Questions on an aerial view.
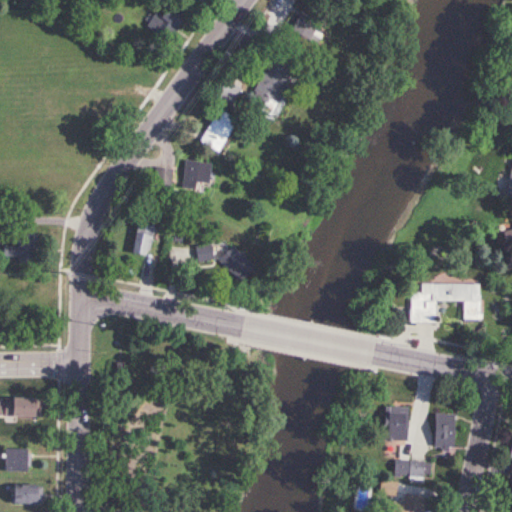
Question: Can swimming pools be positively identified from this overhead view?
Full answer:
No, I can't see a single swimming pool in this photo.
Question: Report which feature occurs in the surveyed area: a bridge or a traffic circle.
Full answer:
The image shows a bridge.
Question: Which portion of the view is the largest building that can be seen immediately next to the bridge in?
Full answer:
You can find the largest building that can be seen immediately next to the bridge in the right area of the picture.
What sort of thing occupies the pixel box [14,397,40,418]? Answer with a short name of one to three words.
house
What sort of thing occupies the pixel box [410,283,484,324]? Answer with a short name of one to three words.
building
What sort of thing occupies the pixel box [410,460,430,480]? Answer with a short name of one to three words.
building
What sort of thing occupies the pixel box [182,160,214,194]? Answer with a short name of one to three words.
house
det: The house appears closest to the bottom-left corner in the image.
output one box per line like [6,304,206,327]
[14,484,44,504]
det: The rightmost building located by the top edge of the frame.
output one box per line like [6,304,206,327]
[293,24,324,42]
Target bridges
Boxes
[232,308,384,373]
